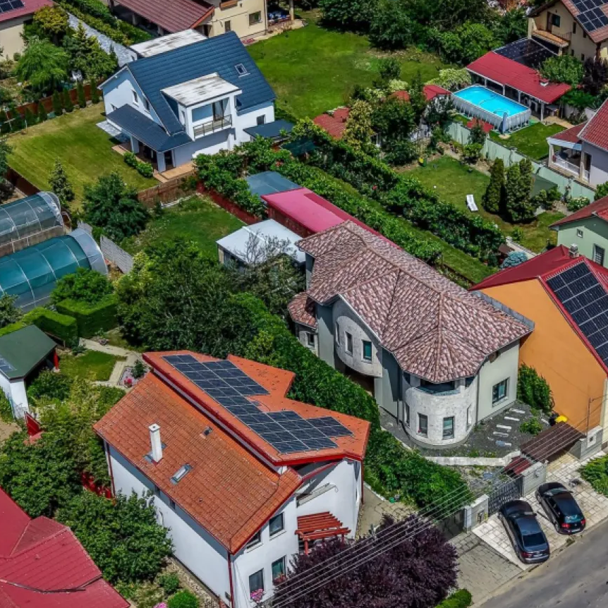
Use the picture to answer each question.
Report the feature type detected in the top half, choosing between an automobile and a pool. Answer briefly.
pool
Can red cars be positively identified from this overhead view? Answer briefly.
No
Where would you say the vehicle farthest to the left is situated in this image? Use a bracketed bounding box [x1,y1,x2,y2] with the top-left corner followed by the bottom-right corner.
[492,504,547,563]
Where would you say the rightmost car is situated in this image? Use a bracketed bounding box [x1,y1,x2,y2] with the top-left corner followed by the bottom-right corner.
[535,483,585,534]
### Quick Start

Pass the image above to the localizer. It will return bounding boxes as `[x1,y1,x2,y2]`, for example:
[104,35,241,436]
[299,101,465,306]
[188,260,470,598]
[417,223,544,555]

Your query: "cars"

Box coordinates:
[492,504,547,563]
[535,483,585,534]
